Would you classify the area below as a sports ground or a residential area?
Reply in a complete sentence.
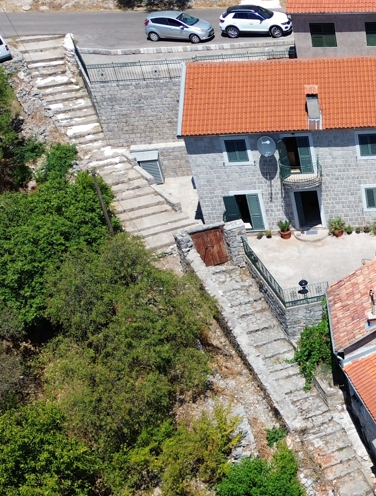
This looks like a residential area.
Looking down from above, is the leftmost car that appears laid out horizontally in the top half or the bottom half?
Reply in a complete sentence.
The top half of the photo is where the leftmost car that appears laid out horizontally is.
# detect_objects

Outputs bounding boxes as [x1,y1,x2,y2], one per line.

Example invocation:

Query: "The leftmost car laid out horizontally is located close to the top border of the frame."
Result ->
[137,8,216,43]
